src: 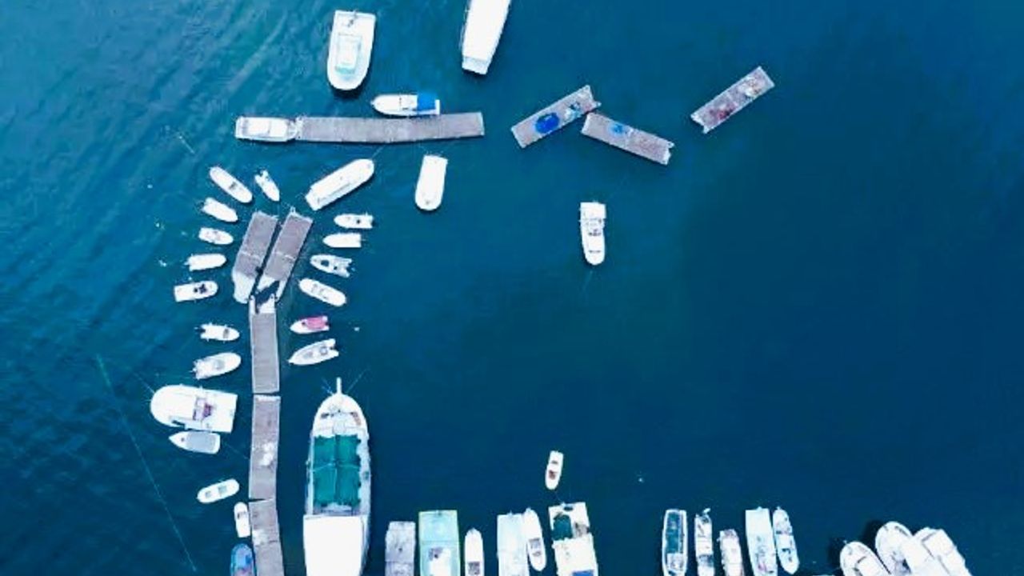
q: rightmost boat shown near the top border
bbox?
[461,0,512,82]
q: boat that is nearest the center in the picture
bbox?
[579,197,607,265]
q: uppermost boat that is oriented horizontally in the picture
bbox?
[372,93,445,116]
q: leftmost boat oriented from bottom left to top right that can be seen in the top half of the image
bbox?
[302,158,374,212]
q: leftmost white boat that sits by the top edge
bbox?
[325,5,375,89]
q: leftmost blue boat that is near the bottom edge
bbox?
[231,544,258,576]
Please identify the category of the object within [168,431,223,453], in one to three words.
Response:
boat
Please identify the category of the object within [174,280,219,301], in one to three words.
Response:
boat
